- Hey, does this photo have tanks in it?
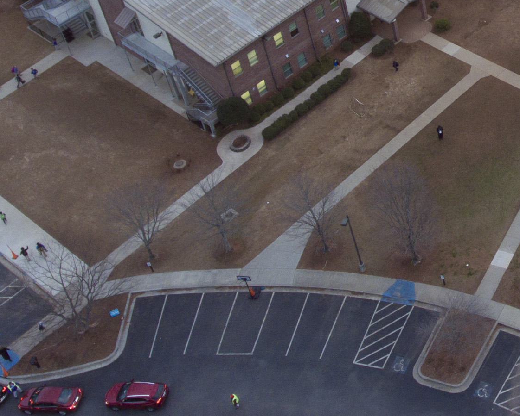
No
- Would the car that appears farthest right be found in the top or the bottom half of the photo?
bottom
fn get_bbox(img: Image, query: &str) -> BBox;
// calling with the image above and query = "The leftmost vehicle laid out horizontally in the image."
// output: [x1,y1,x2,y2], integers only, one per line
[15,383,86,416]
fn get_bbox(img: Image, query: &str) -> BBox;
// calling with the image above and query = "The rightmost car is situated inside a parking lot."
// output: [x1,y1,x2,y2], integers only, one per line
[102,379,172,413]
